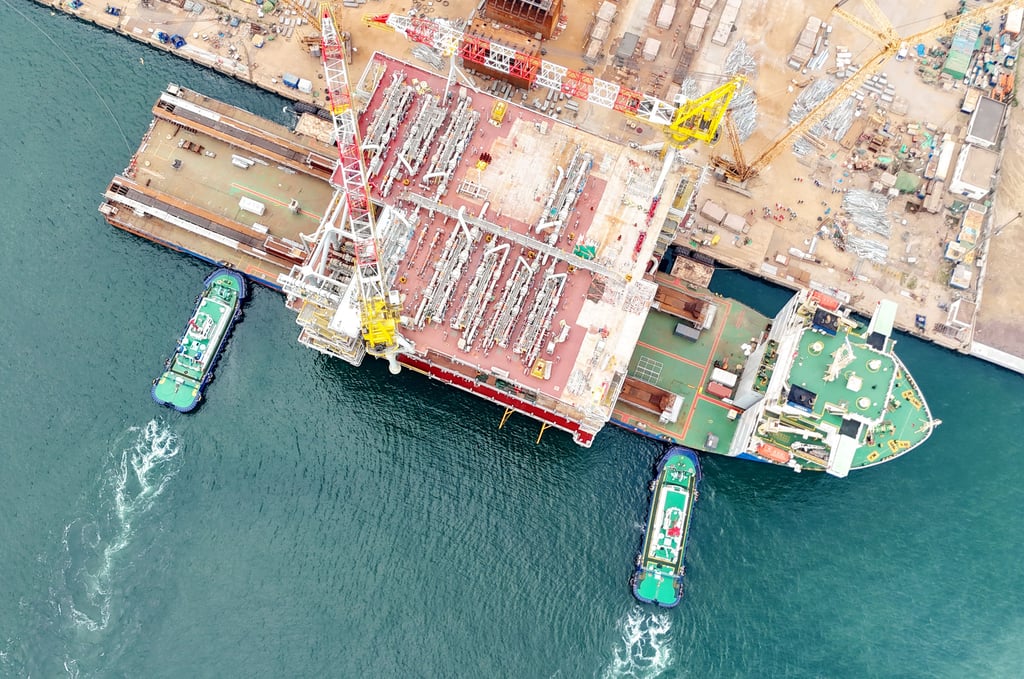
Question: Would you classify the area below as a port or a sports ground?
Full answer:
It's a port.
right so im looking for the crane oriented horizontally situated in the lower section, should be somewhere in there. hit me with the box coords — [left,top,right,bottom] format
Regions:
[761,418,823,441]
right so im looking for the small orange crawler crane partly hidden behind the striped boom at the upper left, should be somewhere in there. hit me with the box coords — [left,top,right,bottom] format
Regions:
[275,0,351,65]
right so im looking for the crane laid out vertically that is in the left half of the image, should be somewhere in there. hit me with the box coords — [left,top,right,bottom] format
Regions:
[319,0,401,372]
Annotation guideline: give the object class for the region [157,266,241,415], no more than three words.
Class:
boat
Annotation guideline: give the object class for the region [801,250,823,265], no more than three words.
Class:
vehicle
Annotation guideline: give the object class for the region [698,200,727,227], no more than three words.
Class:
building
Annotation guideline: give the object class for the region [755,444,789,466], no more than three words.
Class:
boat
